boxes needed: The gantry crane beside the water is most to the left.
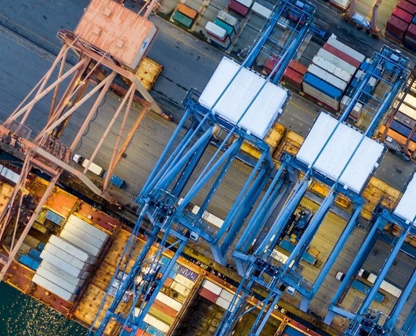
[0,0,182,283]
